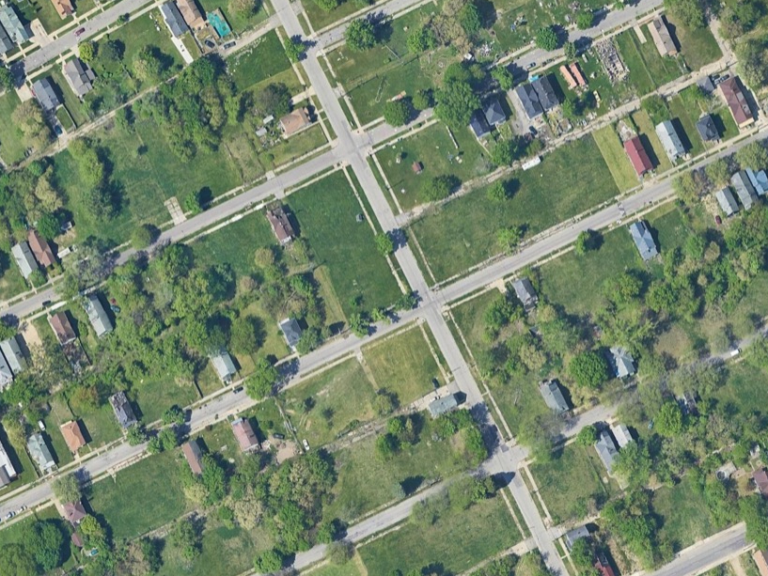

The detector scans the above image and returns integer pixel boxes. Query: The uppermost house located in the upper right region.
[648,14,680,59]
